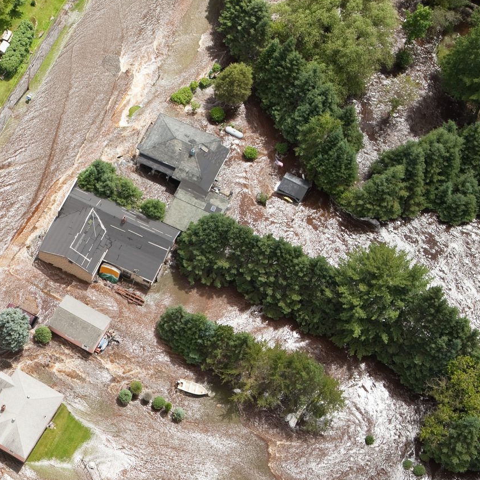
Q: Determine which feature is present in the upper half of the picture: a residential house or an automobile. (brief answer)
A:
residential house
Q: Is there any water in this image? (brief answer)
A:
Yes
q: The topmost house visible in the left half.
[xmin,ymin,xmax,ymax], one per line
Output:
[131,115,232,195]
